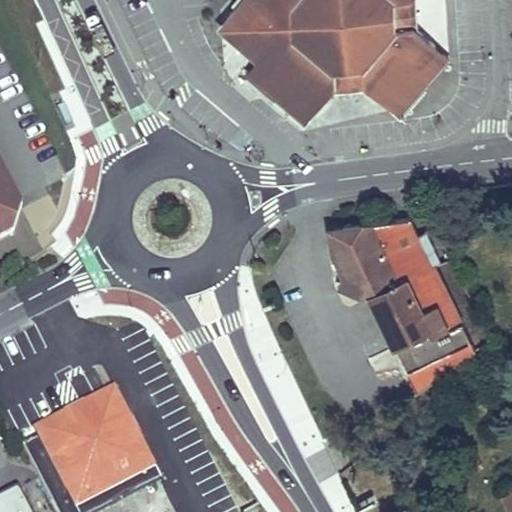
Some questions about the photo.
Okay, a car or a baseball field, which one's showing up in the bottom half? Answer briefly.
car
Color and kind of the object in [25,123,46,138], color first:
white car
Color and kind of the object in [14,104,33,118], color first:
white vehicle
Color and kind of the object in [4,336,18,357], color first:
white car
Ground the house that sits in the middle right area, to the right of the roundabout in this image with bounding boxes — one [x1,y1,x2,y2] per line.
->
[327,222,476,394]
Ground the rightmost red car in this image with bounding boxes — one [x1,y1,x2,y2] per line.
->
[28,135,48,150]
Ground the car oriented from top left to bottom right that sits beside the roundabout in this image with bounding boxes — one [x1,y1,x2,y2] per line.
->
[291,152,312,172]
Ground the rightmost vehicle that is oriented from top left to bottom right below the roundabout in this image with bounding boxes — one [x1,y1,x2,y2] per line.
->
[278,468,296,490]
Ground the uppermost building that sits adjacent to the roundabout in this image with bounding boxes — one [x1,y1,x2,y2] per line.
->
[218,0,450,126]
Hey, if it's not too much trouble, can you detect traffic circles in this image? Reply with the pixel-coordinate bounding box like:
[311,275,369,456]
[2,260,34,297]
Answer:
[78,125,296,325]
